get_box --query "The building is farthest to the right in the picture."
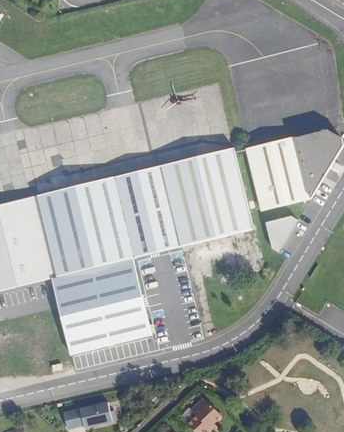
[294,128,344,199]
